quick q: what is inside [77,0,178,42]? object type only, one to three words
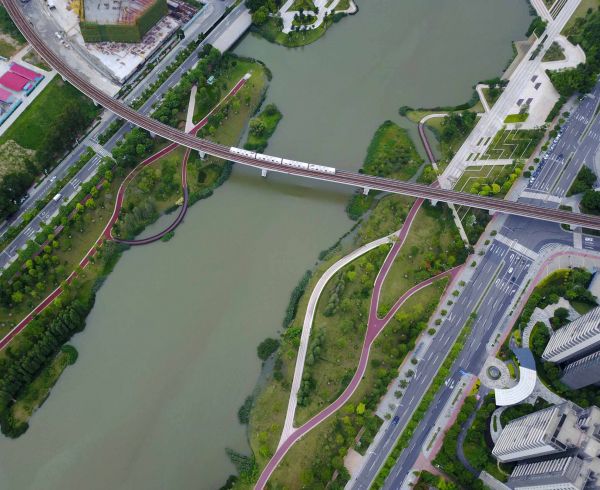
building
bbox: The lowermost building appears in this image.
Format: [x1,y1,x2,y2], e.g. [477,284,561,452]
[496,402,600,490]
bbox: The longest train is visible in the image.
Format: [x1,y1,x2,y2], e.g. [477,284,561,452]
[231,149,336,175]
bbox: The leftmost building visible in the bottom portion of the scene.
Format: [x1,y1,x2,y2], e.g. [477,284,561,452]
[492,348,536,406]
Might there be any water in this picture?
Yes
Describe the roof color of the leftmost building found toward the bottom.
white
